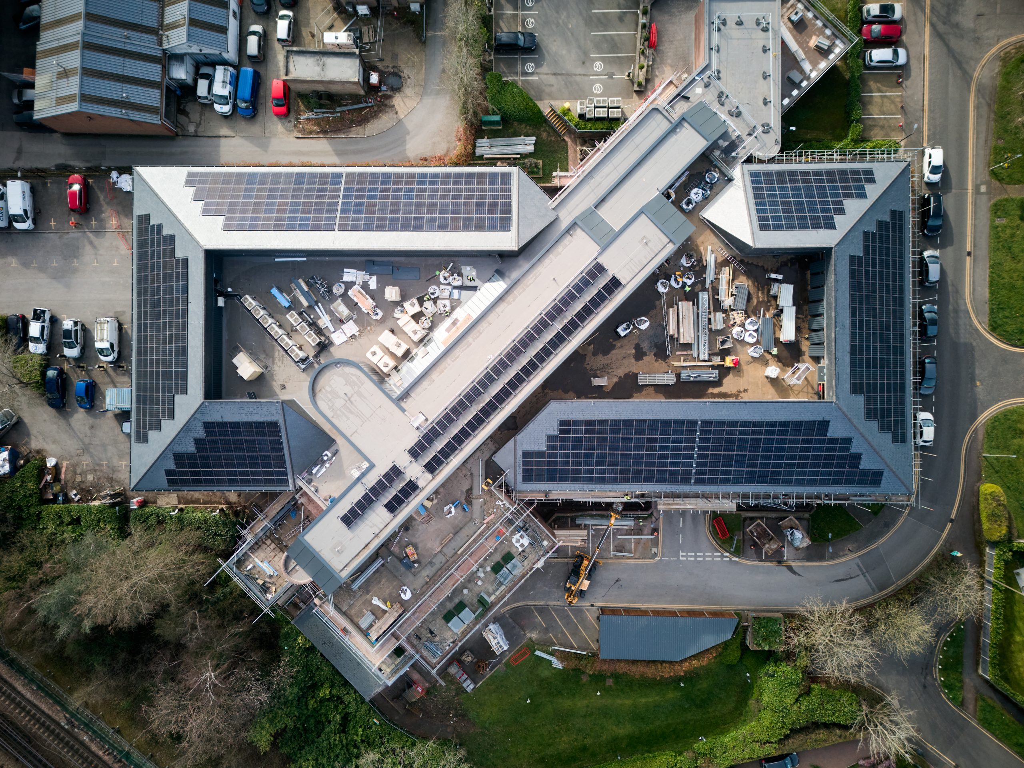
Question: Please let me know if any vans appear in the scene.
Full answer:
Yes, I can see a van in this picture.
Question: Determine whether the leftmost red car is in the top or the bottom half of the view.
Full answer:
The leftmost red car is in the top half of the image.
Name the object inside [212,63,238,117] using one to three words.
vehicle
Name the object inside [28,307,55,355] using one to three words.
truck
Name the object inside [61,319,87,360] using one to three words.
car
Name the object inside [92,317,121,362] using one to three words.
van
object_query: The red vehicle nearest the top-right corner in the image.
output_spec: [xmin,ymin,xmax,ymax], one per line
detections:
[861,22,904,47]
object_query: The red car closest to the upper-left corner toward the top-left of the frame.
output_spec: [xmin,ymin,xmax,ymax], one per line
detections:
[65,174,91,215]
